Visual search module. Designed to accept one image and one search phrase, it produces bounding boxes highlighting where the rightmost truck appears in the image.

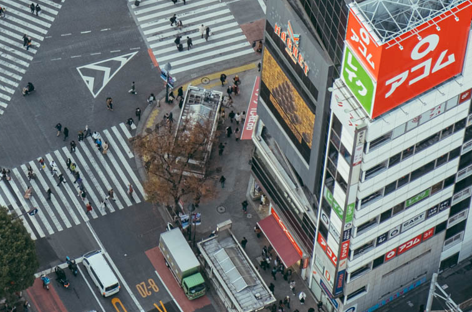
[155,216,211,299]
